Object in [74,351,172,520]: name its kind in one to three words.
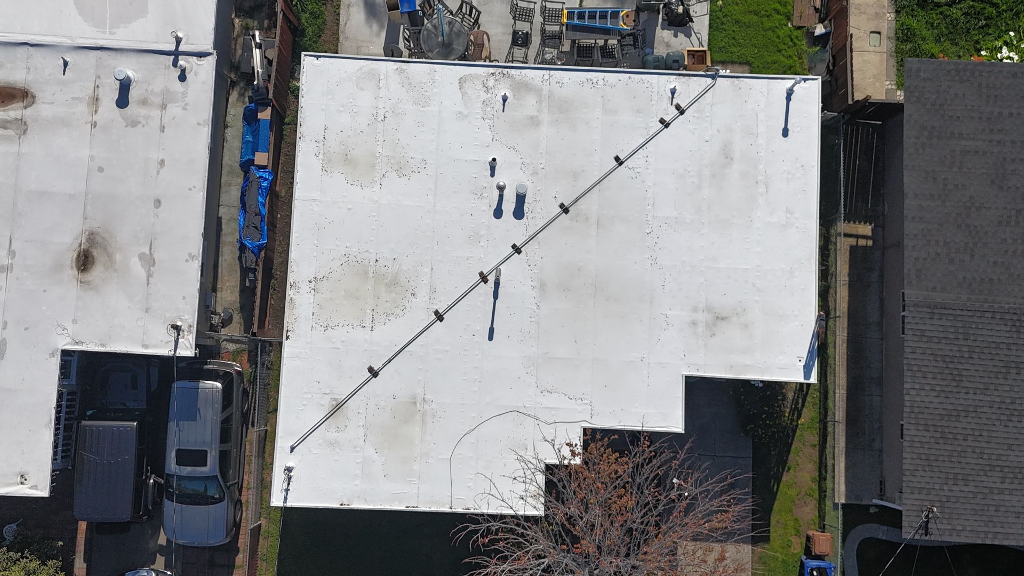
van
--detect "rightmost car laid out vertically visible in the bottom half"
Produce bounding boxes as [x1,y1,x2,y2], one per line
[149,354,251,550]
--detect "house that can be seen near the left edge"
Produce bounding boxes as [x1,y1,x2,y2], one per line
[0,0,237,497]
